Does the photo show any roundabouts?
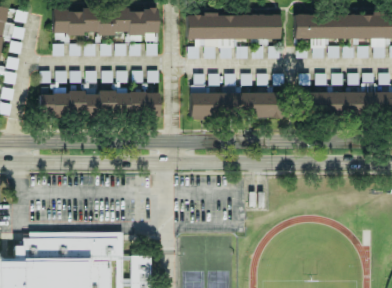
No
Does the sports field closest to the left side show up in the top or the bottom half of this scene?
bottom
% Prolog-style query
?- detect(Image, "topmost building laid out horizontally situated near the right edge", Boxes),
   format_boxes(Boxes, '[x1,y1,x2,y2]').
[295,13,392,38]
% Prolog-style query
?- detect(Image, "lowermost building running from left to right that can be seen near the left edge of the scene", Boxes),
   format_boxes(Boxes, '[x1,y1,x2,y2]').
[0,232,132,288]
